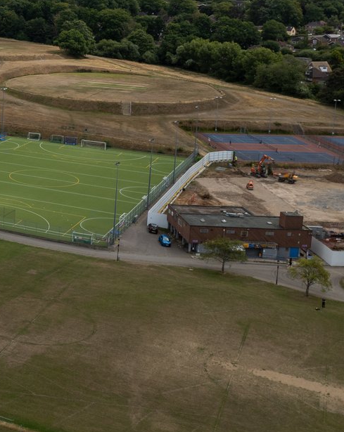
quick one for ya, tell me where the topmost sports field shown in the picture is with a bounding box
[0,136,191,243]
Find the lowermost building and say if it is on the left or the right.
right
